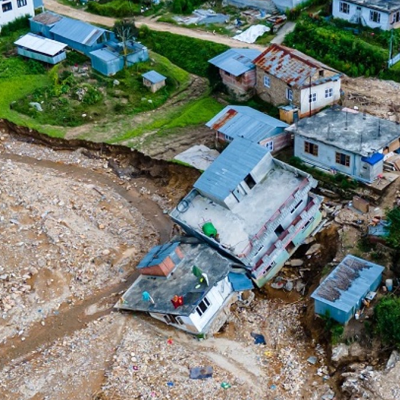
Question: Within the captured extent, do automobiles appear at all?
No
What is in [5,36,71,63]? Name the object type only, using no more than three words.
shed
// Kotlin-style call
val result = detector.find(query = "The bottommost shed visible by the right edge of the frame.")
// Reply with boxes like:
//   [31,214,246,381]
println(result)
[308,252,388,323]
